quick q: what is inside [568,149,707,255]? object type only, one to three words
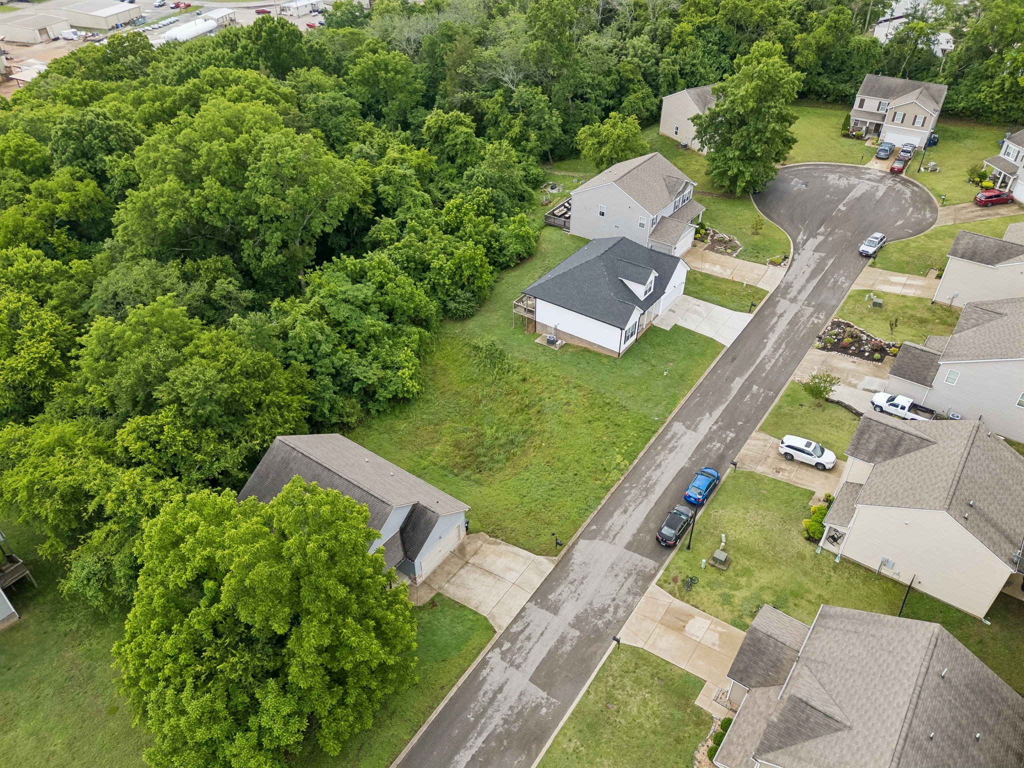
house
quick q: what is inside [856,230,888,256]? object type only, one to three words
car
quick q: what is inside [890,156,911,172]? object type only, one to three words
car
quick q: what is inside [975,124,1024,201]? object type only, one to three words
house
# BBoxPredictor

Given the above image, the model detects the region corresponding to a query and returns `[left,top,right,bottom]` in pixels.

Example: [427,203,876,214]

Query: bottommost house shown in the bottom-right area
[711,602,1024,768]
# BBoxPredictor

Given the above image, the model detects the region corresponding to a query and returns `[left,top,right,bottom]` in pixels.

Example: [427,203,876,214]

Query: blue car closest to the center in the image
[681,464,722,505]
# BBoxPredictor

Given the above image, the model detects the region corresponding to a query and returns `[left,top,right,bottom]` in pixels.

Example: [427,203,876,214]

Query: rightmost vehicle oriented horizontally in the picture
[975,188,1018,206]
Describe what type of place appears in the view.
residential area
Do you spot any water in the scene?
No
